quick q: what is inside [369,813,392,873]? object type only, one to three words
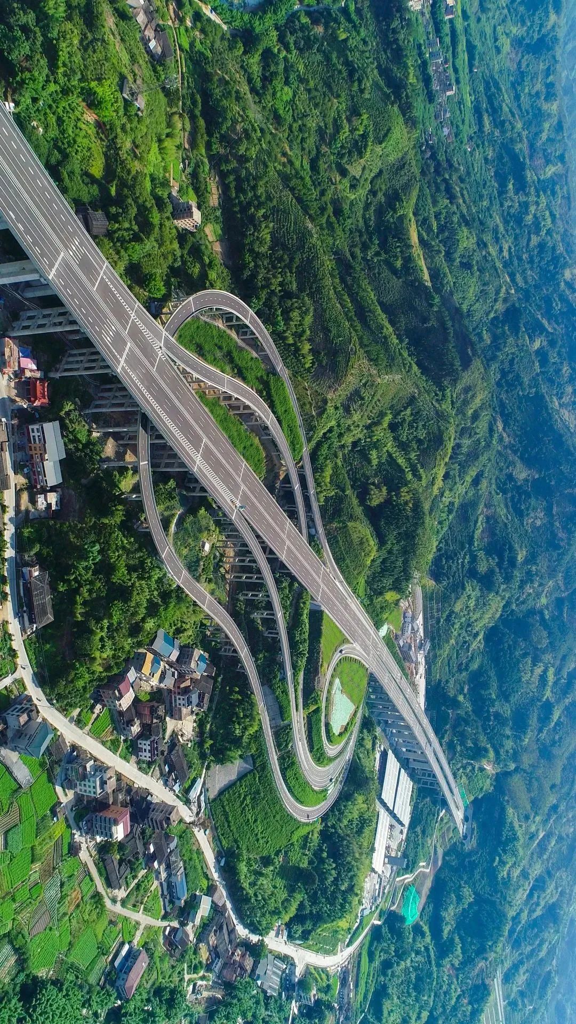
building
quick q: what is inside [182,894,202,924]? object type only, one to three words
shed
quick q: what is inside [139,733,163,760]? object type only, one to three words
house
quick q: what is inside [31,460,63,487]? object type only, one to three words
house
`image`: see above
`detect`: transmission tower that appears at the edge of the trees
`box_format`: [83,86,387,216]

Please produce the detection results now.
[130,68,182,98]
